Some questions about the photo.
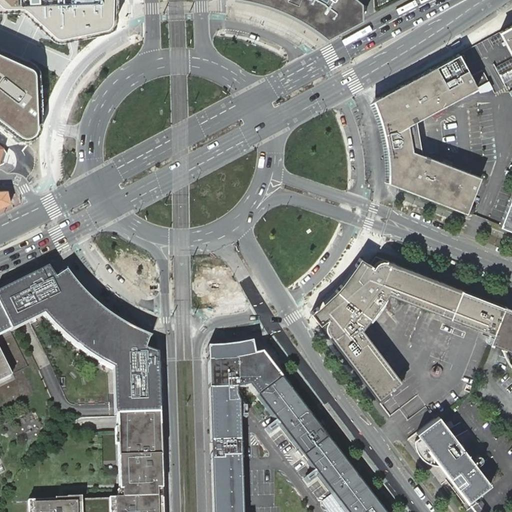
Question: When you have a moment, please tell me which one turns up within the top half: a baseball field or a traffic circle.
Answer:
traffic circle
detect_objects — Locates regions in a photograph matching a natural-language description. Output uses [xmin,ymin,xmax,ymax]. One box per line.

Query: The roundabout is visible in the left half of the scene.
[64,30,311,256]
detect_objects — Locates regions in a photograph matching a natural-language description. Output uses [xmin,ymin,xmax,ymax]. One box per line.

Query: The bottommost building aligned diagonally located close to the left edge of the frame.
[0,264,162,412]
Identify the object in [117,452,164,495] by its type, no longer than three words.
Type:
building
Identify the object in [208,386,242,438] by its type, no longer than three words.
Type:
building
